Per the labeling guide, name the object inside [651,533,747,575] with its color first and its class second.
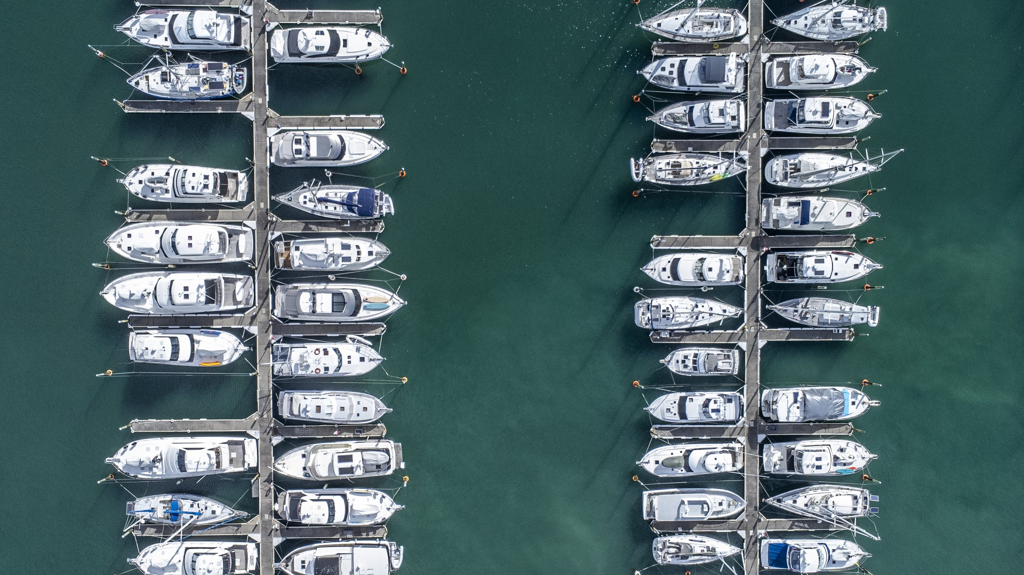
white boat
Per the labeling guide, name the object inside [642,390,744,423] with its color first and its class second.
white boat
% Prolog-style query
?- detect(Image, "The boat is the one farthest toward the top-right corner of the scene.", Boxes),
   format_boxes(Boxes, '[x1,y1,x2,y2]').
[876,7,890,34]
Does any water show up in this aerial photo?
Yes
